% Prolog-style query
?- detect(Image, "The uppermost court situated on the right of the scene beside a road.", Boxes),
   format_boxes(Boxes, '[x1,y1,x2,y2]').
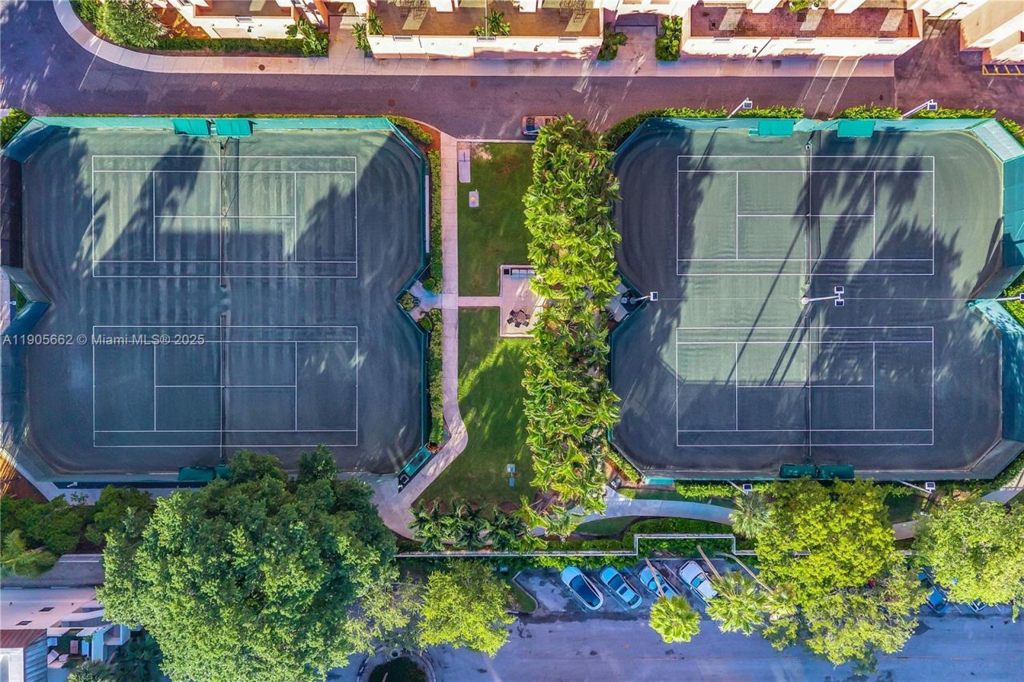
[614,130,1004,301]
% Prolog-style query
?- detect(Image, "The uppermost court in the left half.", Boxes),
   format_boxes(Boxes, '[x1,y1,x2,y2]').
[22,128,424,301]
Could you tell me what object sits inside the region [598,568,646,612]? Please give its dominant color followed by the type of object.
blue car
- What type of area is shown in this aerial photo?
sports ground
